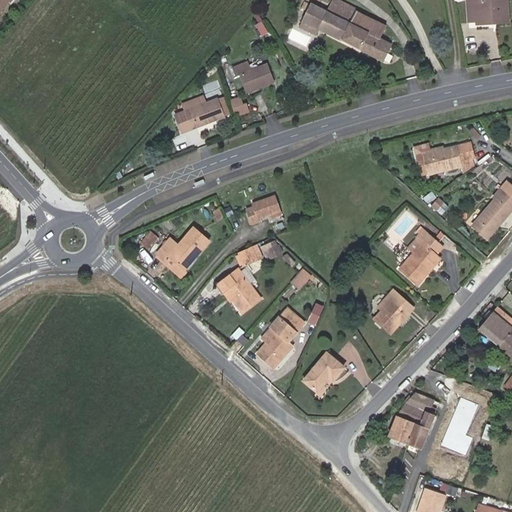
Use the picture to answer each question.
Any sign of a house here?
Yes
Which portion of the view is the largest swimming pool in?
right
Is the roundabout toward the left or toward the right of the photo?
left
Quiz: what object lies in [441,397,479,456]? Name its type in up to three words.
building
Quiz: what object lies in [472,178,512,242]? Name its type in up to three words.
house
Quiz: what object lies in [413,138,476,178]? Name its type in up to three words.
house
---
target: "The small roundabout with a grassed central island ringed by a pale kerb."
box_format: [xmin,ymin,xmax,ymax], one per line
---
[36,206,110,271]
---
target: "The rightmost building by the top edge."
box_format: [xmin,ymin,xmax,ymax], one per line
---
[456,0,509,28]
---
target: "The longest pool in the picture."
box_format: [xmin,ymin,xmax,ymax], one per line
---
[393,214,415,238]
